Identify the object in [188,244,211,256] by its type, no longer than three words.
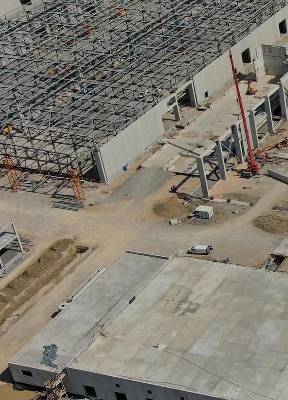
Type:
vehicle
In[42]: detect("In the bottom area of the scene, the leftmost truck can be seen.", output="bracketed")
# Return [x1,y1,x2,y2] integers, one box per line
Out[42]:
[49,264,105,313]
